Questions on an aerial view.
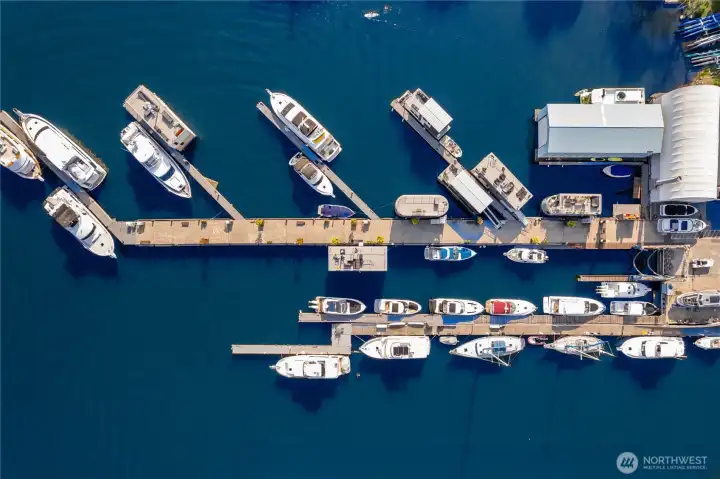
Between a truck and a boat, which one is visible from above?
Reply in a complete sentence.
There is a boat in the scene.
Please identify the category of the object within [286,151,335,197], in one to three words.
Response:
boat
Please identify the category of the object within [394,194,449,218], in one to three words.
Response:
vessel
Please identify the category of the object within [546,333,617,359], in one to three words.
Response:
boat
